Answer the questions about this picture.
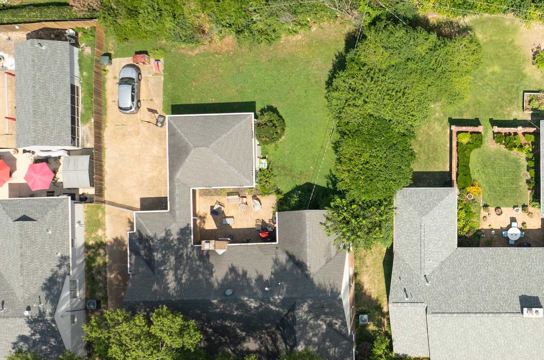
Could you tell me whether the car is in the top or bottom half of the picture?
top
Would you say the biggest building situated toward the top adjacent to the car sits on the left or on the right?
left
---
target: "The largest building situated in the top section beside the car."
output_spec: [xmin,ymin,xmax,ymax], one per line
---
[14,40,93,151]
